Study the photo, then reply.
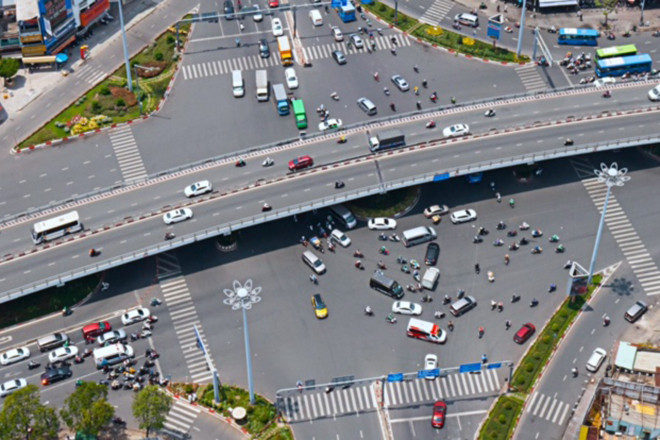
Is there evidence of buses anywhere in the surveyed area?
Yes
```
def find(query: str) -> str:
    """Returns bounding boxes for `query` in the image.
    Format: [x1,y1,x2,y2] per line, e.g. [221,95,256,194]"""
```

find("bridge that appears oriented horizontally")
[0,75,660,305]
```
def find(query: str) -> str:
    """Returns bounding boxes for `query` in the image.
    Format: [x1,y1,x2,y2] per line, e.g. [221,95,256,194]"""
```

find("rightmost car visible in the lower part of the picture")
[623,301,649,323]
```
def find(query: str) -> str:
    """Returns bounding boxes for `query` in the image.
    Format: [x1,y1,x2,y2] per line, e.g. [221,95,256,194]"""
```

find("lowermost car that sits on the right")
[432,402,447,429]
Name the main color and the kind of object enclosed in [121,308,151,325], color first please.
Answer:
white car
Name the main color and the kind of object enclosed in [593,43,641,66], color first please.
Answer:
green bus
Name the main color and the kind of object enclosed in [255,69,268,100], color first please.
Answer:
white vehicle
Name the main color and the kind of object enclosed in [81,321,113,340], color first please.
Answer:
red car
